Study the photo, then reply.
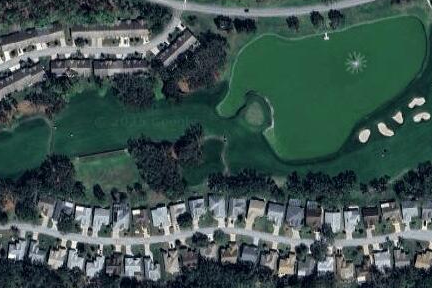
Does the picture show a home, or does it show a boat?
home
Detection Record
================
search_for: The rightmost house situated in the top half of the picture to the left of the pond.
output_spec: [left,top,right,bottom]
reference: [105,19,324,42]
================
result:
[157,32,199,64]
